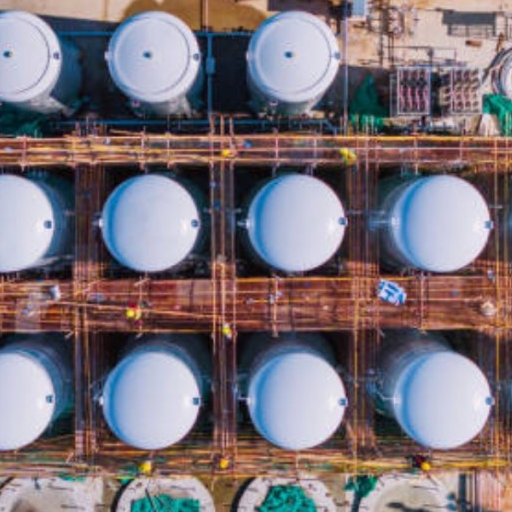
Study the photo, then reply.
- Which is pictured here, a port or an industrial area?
industrial area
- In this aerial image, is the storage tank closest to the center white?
Yes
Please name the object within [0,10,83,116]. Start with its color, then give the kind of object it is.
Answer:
white storage tank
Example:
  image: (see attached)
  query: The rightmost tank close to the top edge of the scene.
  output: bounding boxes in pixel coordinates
[232,9,340,119]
